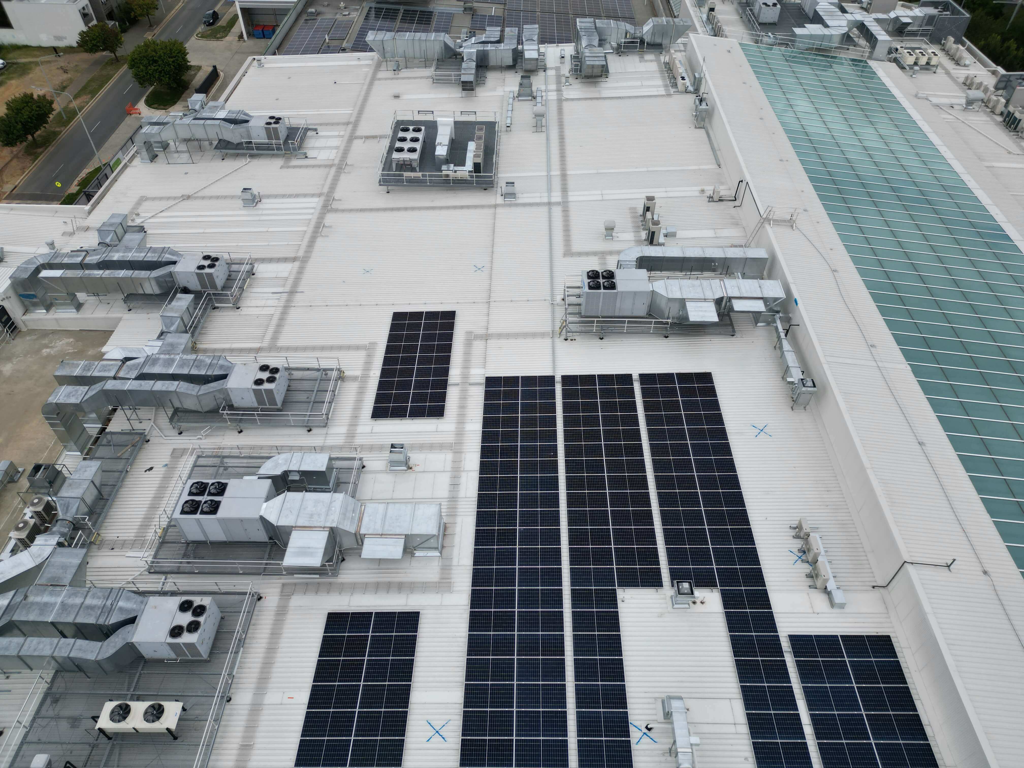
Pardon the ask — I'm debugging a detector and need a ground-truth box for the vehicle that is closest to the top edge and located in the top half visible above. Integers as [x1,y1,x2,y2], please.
[202,9,219,24]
